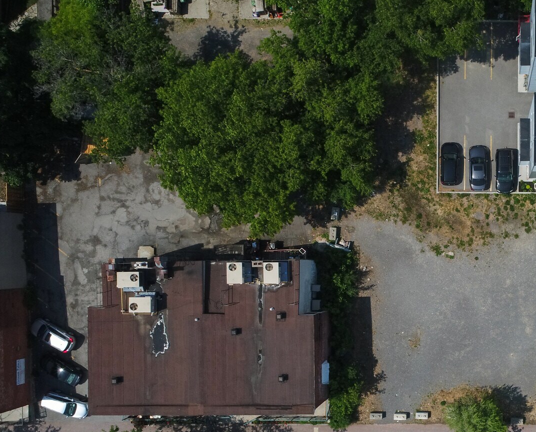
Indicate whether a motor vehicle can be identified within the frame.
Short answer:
Yes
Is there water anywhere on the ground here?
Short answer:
No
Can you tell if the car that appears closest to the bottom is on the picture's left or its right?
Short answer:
left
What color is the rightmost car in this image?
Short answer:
black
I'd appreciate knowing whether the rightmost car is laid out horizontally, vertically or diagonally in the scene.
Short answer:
vertically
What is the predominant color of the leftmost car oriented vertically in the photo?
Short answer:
black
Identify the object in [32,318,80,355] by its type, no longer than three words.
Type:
car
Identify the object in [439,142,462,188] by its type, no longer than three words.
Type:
car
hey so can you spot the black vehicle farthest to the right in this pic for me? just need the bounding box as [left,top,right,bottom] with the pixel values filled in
[494,146,518,193]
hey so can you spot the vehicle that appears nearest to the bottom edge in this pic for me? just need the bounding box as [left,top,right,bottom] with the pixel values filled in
[39,390,86,419]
